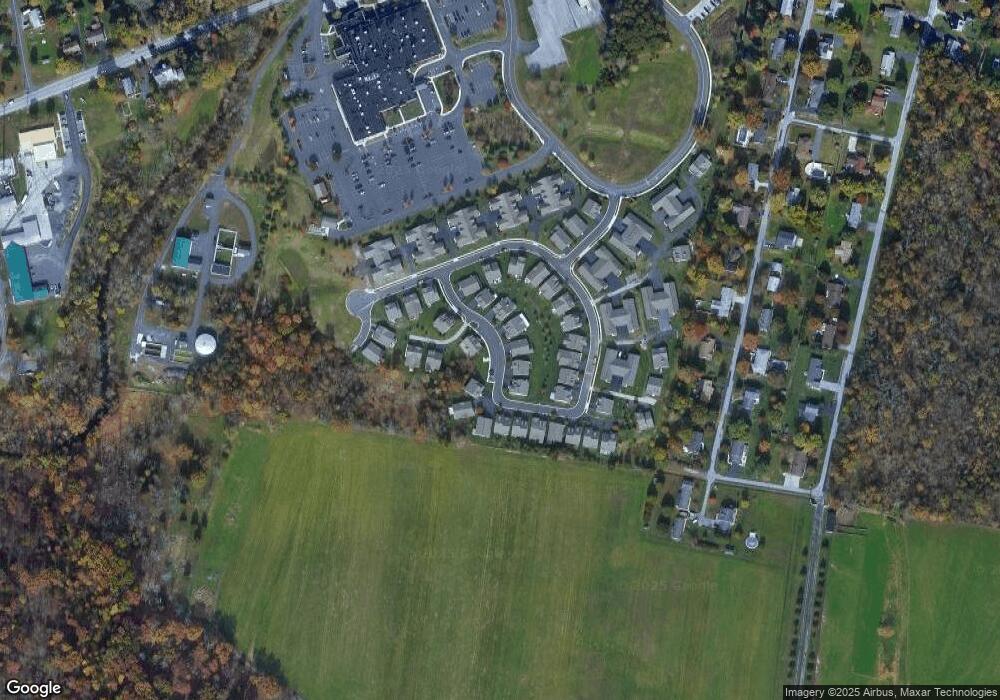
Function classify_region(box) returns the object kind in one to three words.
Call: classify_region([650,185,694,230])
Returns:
building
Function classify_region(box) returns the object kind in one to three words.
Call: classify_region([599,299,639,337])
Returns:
building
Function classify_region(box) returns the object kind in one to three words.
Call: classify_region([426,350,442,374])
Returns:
house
